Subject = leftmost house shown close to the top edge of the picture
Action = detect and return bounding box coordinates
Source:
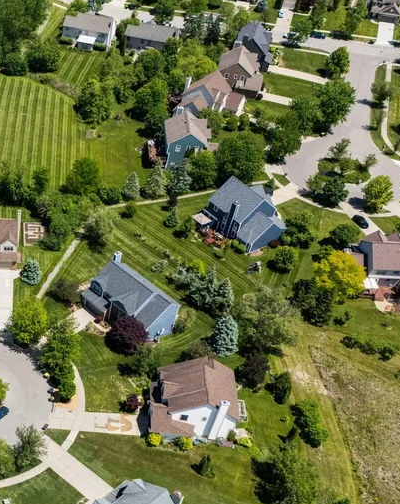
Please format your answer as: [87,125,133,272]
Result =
[72,12,115,54]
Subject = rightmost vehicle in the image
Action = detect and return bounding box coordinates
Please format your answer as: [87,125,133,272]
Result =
[351,215,371,229]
